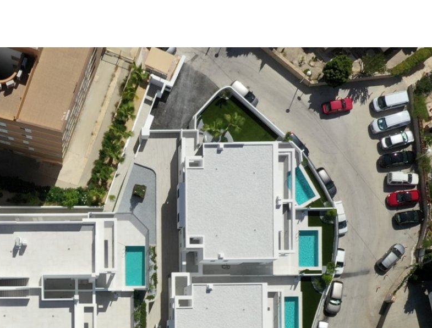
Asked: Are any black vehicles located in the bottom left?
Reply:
No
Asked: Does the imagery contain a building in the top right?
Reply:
Yes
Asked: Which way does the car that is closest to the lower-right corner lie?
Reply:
diagonally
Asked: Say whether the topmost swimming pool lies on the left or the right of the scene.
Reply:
right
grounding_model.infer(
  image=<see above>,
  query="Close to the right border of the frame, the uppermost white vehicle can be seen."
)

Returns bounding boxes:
[368,90,411,112]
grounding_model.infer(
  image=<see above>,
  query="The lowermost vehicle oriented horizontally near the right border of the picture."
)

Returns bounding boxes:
[390,210,424,226]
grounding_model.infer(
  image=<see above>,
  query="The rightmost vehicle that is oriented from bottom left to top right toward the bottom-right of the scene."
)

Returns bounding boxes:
[372,241,404,275]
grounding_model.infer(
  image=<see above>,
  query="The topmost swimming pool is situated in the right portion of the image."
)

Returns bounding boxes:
[295,164,318,207]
